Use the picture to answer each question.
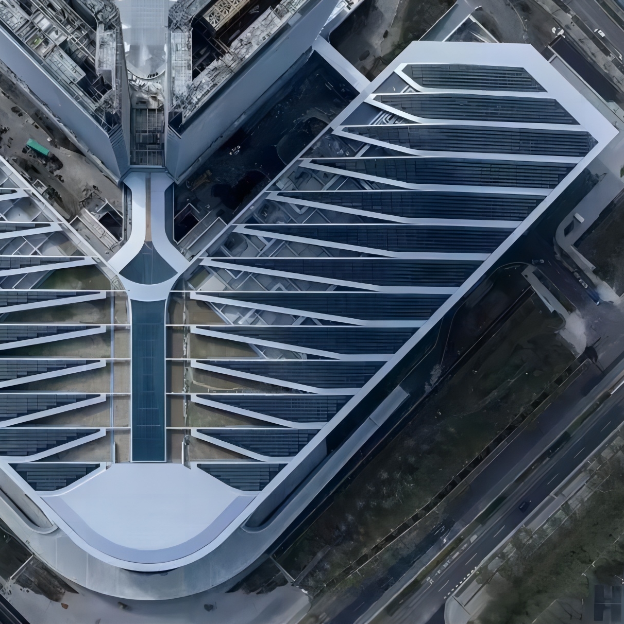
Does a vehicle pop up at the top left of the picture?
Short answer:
Yes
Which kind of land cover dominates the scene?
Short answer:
buildings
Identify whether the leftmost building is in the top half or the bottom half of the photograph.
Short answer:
top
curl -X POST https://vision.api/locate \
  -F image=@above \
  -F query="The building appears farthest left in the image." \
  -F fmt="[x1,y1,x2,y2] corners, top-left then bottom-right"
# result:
[0,0,128,180]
